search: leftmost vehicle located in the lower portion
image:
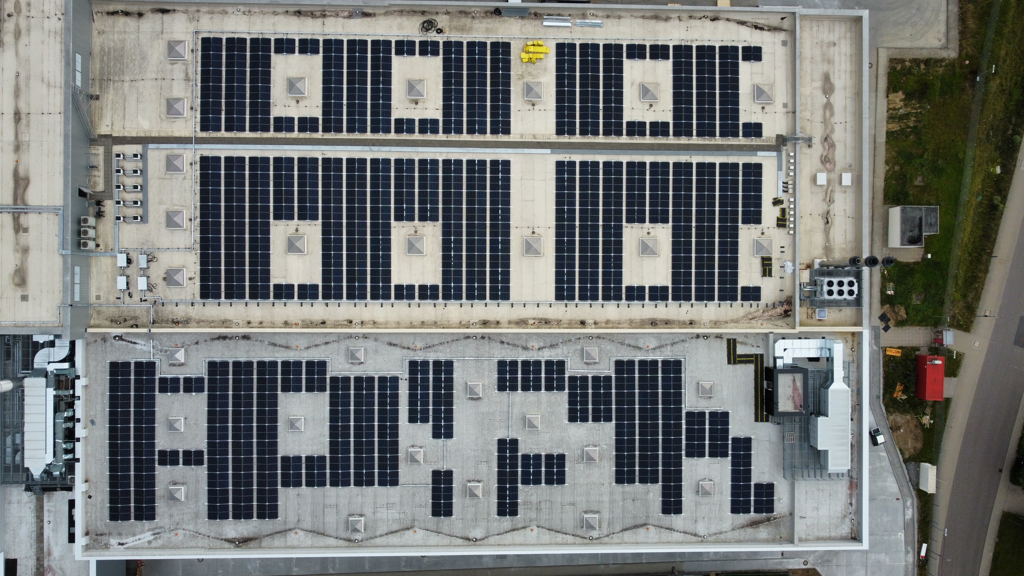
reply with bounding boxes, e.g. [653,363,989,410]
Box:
[869,427,888,451]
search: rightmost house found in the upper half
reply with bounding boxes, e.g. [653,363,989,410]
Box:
[889,206,939,247]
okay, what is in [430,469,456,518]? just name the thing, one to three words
solar array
